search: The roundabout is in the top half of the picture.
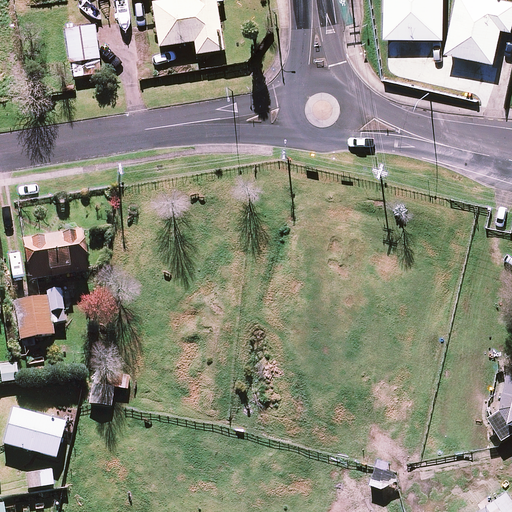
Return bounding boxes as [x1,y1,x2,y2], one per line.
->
[304,92,340,128]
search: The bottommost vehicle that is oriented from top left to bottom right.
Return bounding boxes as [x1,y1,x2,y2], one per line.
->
[100,44,123,71]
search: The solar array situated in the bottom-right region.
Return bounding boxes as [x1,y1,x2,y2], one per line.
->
[490,412,508,439]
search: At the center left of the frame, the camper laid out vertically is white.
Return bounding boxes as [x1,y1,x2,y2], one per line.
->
[8,251,23,281]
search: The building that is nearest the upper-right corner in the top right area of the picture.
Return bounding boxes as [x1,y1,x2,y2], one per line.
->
[444,0,512,65]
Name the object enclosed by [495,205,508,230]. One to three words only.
vehicle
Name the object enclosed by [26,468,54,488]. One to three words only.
shed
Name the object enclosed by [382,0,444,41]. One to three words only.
house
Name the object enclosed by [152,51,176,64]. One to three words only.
vehicle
